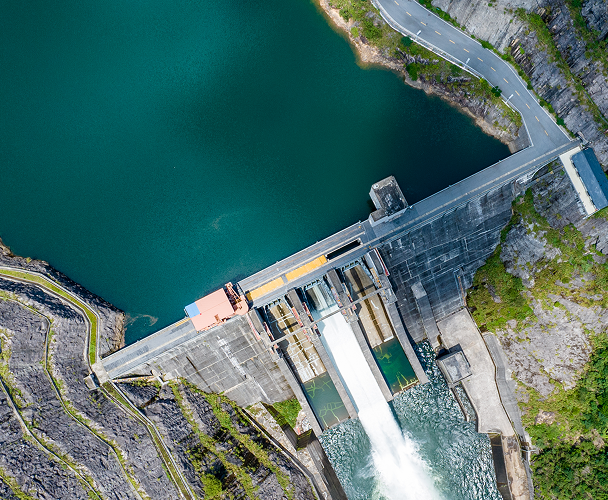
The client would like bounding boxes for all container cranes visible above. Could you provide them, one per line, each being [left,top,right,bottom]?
[185,276,252,333]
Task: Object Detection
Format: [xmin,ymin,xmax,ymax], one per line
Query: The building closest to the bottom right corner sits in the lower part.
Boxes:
[435,350,472,389]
